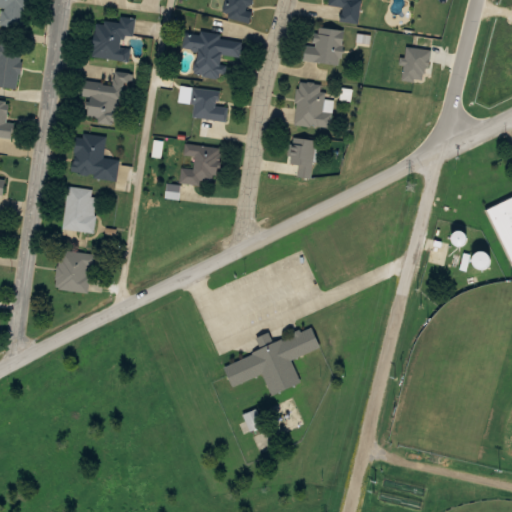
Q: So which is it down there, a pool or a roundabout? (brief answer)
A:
pool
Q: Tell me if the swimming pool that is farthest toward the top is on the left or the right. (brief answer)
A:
right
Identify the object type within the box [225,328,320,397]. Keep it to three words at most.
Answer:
building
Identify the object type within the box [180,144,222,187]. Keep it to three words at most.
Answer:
house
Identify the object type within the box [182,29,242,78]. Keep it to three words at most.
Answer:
house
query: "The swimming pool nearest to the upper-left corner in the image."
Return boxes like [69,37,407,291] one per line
[126,36,144,62]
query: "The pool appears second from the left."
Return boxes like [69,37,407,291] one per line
[180,52,197,75]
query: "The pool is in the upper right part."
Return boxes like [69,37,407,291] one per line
[385,0,411,27]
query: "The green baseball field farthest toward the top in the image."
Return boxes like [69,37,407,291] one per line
[390,281,512,474]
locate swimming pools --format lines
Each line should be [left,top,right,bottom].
[385,0,411,27]
[126,36,144,62]
[180,52,197,75]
